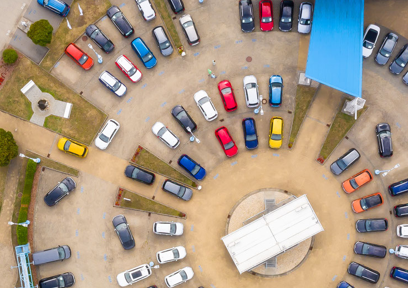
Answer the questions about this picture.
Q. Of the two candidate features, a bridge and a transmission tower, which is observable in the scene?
transmission tower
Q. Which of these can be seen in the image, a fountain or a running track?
fountain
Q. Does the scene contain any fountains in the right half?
No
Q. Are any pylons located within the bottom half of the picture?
No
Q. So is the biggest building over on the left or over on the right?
right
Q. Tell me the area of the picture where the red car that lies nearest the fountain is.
top left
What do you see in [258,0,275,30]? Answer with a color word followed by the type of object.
red car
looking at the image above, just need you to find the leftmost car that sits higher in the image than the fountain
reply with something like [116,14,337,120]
[35,0,72,19]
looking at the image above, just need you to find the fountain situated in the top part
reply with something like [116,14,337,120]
[21,83,64,127]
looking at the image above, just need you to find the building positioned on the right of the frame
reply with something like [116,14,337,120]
[221,195,325,275]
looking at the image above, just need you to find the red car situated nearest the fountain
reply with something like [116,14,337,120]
[65,41,93,71]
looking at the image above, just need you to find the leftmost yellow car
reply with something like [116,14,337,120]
[57,137,89,159]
